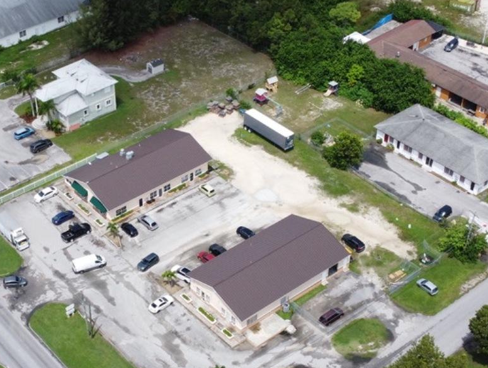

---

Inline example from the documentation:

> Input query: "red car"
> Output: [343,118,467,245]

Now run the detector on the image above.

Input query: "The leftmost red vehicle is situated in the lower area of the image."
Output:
[194,248,217,264]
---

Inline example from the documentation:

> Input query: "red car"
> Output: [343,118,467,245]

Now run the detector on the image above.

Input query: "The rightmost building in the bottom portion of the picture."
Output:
[171,215,351,350]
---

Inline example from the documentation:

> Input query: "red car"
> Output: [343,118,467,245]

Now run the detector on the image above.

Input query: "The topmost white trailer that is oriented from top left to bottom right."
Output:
[245,109,294,148]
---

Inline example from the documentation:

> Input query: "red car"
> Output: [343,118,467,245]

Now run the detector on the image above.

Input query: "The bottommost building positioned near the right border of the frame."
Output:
[376,103,488,191]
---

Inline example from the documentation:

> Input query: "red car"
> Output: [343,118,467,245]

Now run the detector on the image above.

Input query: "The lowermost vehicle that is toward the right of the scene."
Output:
[318,308,345,325]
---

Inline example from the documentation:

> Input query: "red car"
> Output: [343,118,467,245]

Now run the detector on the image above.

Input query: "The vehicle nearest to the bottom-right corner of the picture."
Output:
[416,278,441,295]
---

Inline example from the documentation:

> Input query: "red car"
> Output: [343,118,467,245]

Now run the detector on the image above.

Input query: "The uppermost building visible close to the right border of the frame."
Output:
[365,18,488,118]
